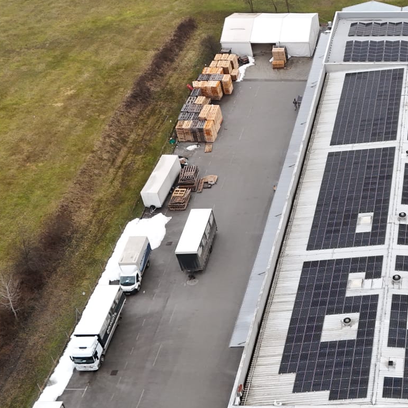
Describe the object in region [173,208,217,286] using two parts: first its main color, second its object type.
white trailer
